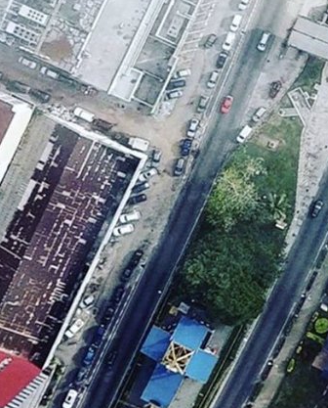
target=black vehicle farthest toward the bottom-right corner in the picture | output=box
[310,198,322,218]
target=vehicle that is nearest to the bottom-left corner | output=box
[63,390,77,408]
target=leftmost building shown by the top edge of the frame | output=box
[0,0,104,72]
